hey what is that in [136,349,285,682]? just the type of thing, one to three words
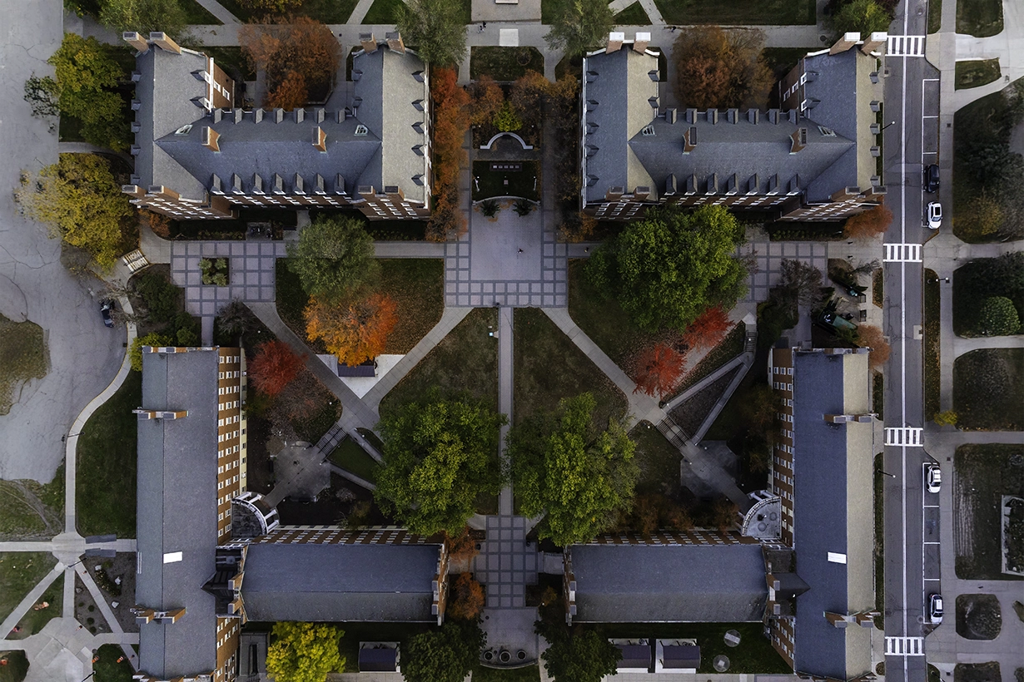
building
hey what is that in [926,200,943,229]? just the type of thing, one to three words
car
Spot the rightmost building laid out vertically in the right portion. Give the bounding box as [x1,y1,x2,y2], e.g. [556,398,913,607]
[728,349,875,682]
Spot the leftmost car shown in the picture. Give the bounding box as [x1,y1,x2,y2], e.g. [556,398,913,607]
[98,299,116,327]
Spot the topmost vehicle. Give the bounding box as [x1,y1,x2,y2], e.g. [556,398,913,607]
[925,162,941,192]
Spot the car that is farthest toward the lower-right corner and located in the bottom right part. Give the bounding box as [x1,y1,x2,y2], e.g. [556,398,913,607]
[928,595,945,624]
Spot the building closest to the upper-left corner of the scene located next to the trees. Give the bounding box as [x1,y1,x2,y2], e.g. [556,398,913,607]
[123,29,432,214]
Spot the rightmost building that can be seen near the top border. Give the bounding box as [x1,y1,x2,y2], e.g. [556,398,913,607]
[579,29,890,214]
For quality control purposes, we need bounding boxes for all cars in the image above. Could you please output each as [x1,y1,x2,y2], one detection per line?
[925,162,941,192]
[98,299,116,327]
[926,200,943,229]
[925,463,942,493]
[928,595,945,624]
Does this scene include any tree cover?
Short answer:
Yes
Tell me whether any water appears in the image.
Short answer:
No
